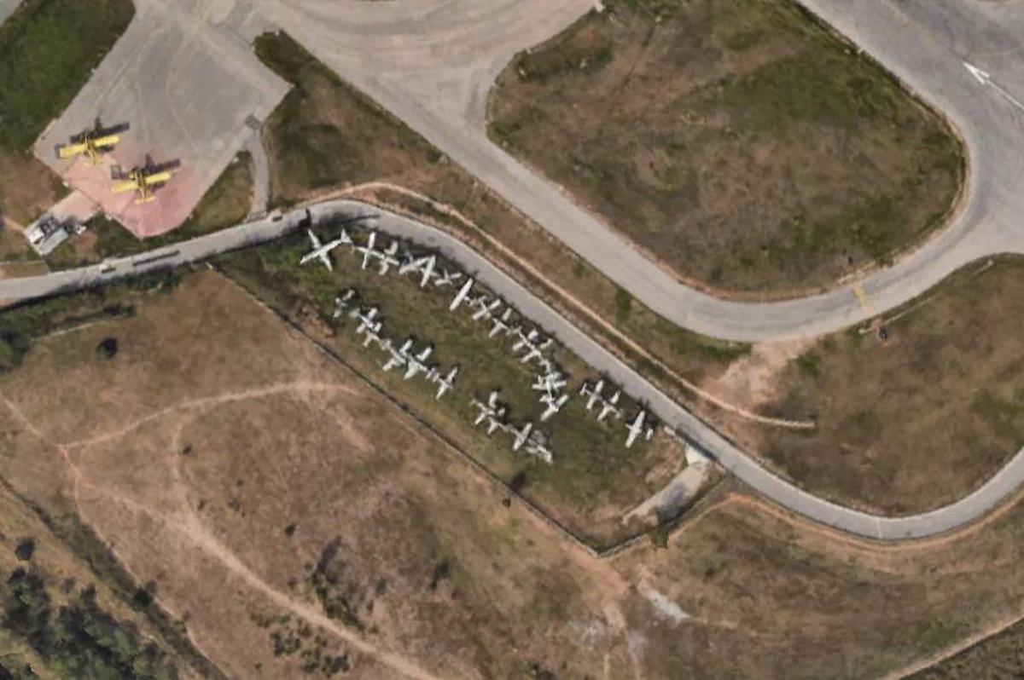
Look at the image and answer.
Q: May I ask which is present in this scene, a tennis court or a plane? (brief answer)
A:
plane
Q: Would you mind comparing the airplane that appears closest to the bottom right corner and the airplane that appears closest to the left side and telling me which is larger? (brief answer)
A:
the airplane that appears closest to the left side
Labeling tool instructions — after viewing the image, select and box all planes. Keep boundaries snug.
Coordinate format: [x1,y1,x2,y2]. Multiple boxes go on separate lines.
[433,367,457,399]
[398,251,428,273]
[351,306,377,333]
[521,339,553,366]
[507,423,533,451]
[449,277,476,311]
[382,338,411,370]
[539,394,569,422]
[488,308,512,339]
[472,391,498,425]
[597,392,623,420]
[300,227,354,270]
[580,381,604,410]
[333,290,355,318]
[380,241,403,274]
[625,411,651,449]
[511,326,539,351]
[55,125,118,168]
[108,162,170,205]
[526,433,555,461]
[487,409,510,436]
[354,234,382,269]
[471,296,500,318]
[435,267,461,287]
[532,372,567,395]
[404,347,433,381]
[418,254,441,287]
[363,322,385,347]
